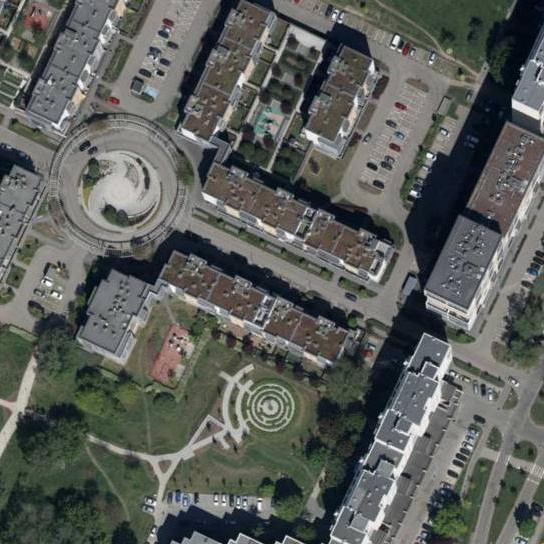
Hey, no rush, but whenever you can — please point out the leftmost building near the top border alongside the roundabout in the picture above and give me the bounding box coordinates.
[26,0,125,135]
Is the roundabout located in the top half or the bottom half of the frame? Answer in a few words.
top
